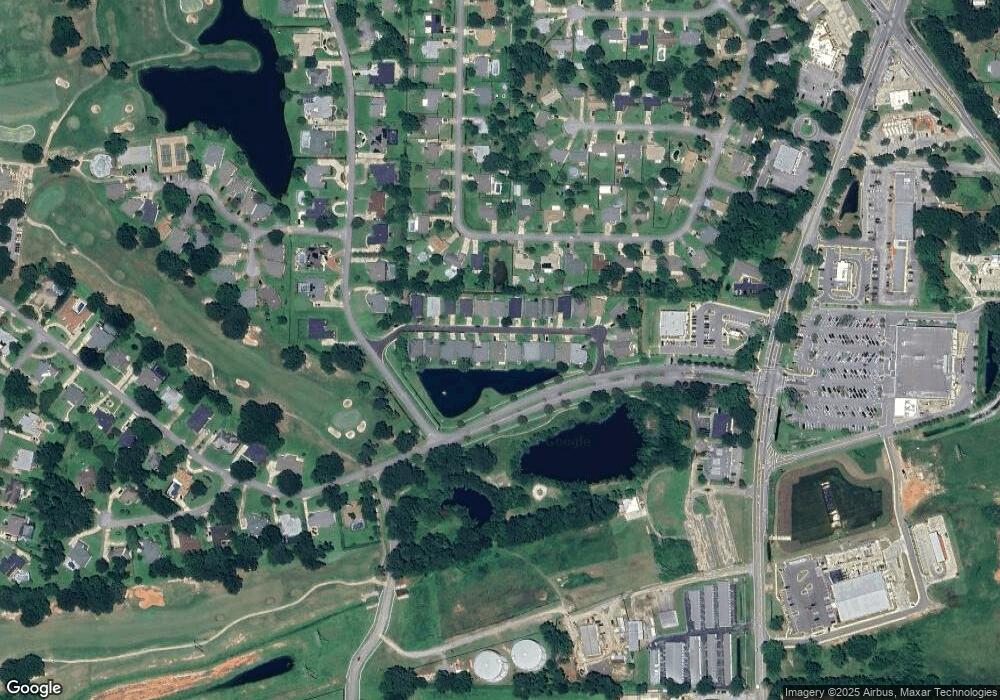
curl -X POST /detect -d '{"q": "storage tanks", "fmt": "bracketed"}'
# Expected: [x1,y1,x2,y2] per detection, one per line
[474,651,507,679]
[511,639,547,671]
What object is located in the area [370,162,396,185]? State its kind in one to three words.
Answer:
house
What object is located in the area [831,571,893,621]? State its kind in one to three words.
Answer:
building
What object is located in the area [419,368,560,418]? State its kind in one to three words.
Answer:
pond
